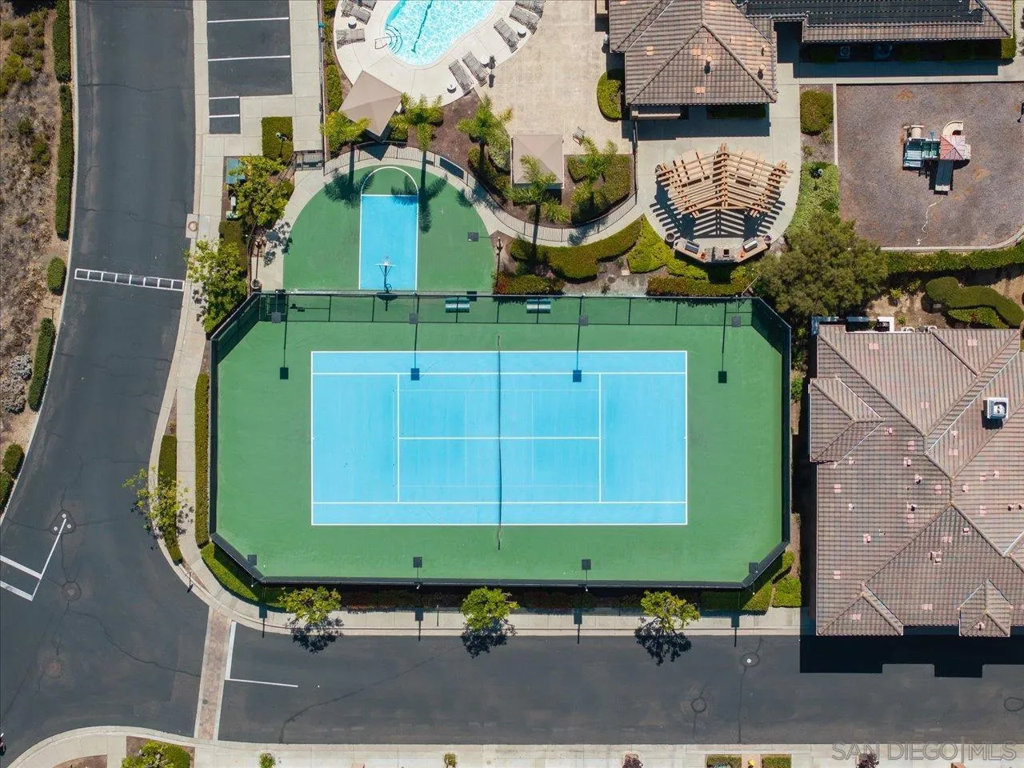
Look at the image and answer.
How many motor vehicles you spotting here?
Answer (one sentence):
The picture shows no motor vehicles.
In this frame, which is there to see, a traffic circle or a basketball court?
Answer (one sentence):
It is a basketball court that can be seen here.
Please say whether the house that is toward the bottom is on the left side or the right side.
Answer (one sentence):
The house that is toward the bottom sits on the right side.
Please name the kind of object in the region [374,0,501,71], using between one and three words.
swimming pool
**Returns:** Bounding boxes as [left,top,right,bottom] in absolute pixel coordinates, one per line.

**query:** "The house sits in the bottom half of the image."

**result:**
[798,324,1024,638]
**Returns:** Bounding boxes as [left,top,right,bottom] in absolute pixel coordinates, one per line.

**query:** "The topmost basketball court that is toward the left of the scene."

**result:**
[284,165,495,290]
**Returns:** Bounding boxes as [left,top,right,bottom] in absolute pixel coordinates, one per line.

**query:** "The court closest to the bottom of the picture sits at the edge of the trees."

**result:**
[217,295,782,577]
